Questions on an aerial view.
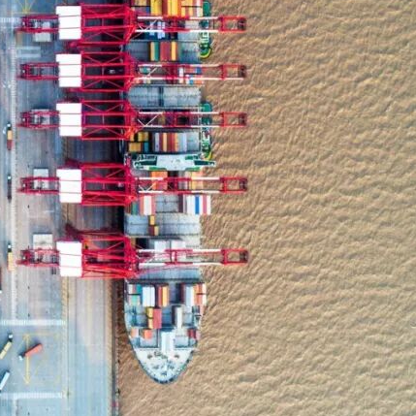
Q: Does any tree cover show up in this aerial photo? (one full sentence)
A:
No, the scene doesn't show any tree cover.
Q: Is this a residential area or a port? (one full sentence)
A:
The picture captures a port.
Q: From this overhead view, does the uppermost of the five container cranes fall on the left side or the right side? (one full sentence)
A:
The uppermost of the five container cranes is on the left side of the image.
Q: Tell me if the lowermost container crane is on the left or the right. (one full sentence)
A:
The lowermost container crane sits on the left side.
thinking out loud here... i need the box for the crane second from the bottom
[14,158,247,204]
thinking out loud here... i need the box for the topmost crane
[13,3,246,51]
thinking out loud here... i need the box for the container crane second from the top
[14,51,246,96]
